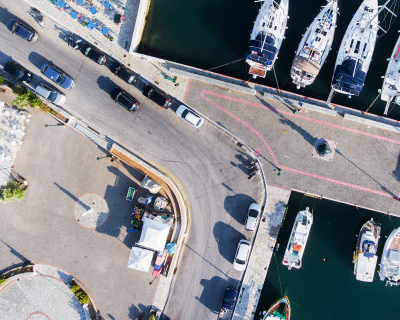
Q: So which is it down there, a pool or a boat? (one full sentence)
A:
Looking from above, you can make out a boat.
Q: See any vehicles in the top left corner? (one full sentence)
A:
Yes, the scene does show a vehicle in the top left corner.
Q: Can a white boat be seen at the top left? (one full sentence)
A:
No, no white boat is visible at the top left.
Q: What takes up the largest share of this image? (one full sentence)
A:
For the most part, this view shows paved ground.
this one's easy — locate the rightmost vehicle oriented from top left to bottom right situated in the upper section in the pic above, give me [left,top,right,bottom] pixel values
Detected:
[175,103,207,130]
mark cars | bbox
[38,60,78,90]
[32,82,68,108]
[78,41,109,66]
[109,84,143,114]
[109,62,141,87]
[216,285,238,320]
[245,202,262,232]
[5,18,40,44]
[1,59,35,85]
[233,238,252,270]
[175,103,207,130]
[142,84,175,112]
